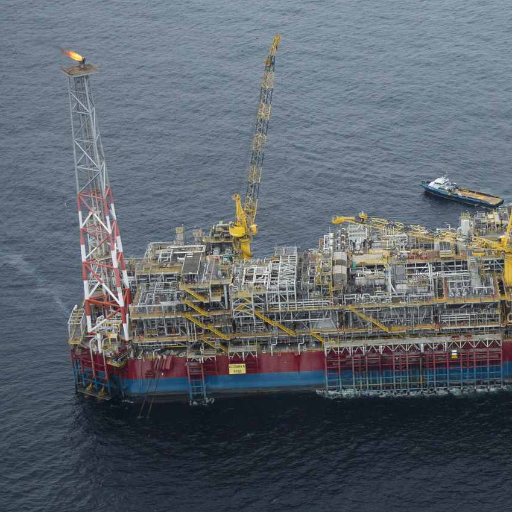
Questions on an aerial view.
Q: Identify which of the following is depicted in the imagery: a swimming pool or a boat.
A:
boat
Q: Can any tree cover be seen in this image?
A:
No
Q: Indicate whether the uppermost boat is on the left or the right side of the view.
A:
right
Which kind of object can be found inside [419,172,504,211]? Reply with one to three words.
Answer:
boat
